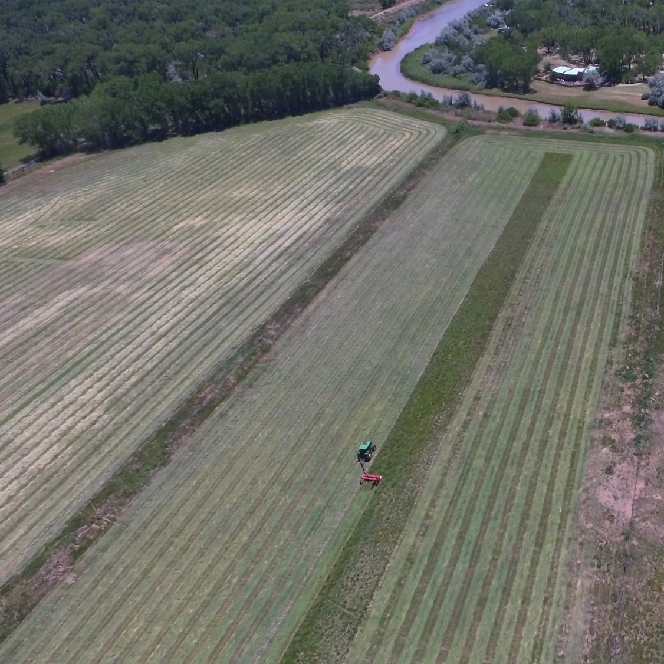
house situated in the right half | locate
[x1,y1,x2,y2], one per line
[553,66,600,83]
